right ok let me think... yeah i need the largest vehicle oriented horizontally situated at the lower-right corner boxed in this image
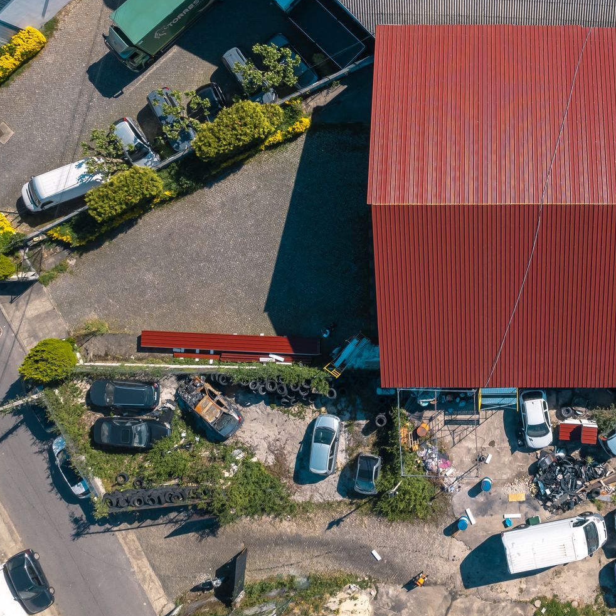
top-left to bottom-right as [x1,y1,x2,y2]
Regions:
[508,510,608,568]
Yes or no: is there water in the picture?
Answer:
No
